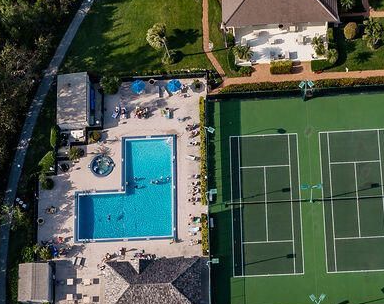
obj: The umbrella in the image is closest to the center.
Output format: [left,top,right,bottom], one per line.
[167,79,182,94]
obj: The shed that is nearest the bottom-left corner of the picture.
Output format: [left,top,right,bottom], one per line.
[18,262,55,302]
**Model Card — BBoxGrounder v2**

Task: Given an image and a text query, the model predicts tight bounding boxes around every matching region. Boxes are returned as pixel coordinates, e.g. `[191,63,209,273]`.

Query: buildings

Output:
[105,257,211,304]
[57,73,104,146]
[222,0,339,33]
[18,262,55,302]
